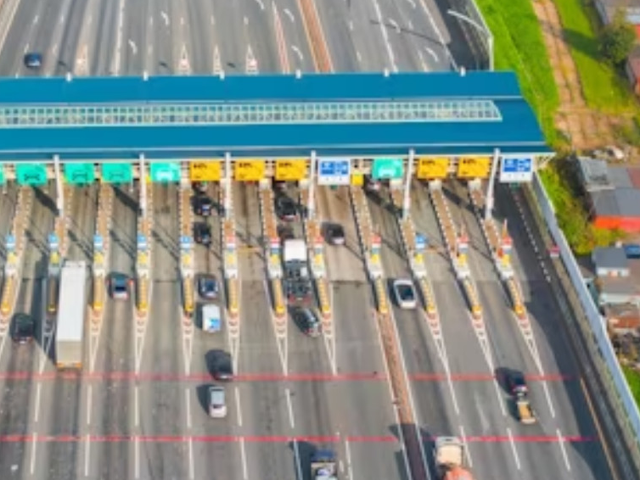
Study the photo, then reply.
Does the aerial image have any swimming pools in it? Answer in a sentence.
No, there is no swimming pool in the image.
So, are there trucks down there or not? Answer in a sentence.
Yes, a truck appears in the view.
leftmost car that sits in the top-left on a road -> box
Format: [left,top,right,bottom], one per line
[24,48,41,70]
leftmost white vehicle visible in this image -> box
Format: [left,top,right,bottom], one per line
[54,251,88,365]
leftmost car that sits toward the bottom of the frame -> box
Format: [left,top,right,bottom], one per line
[12,313,35,344]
